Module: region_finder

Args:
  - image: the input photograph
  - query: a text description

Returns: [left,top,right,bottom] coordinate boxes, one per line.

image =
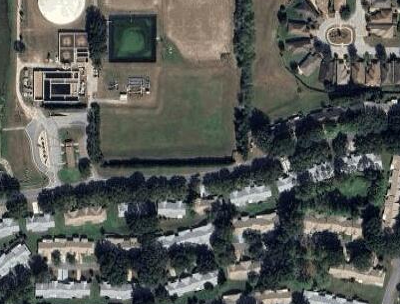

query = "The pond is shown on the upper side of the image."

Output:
[106,12,159,65]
